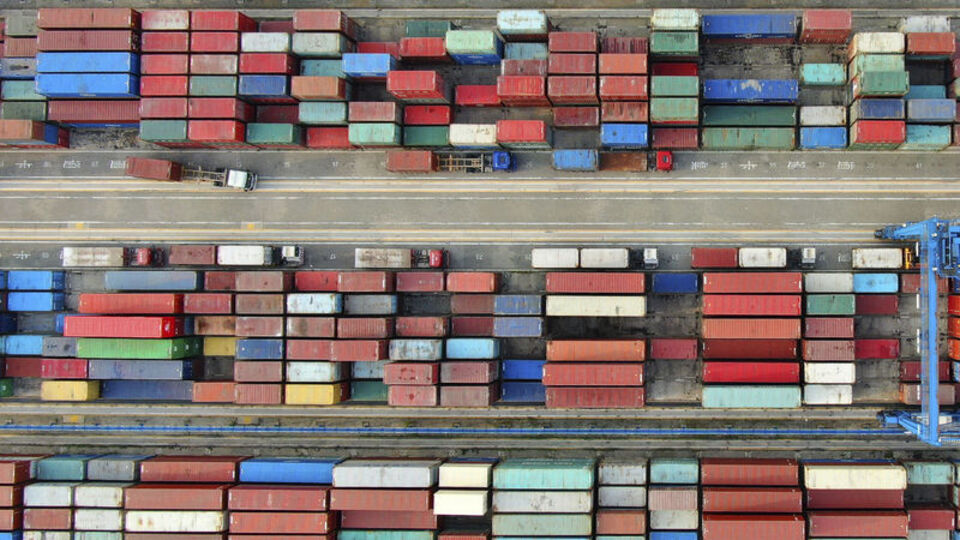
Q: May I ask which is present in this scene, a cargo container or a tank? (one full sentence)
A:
The image shows a cargo container.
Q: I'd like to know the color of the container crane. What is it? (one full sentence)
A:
The color of the container crane is blue.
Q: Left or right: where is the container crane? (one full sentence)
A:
The container crane is on the right side of the image.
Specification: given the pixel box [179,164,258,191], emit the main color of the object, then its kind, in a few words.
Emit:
white truck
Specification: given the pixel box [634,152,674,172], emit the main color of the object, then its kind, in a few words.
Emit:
red vehicle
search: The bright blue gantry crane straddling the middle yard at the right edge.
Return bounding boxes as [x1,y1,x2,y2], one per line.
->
[872,214,960,450]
